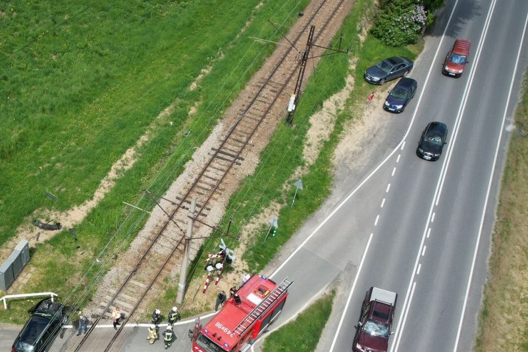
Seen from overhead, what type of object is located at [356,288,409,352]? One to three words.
truck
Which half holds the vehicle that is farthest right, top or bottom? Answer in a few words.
top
